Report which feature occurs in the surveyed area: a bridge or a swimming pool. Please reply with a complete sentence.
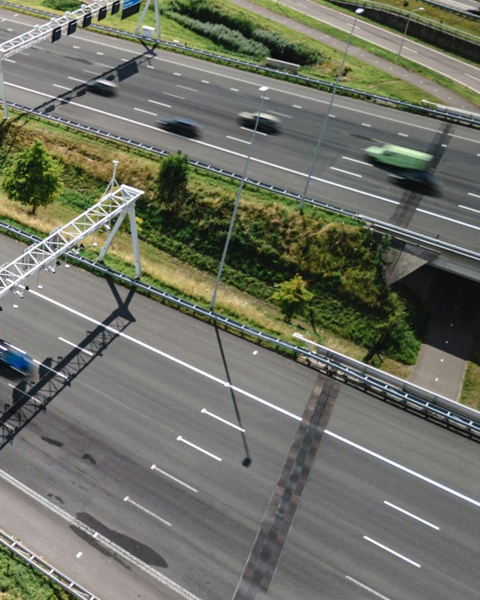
The one in the frame is a bridge.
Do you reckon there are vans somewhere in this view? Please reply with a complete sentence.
Yes, there is a van in the image.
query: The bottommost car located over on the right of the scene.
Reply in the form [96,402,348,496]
[390,171,446,196]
